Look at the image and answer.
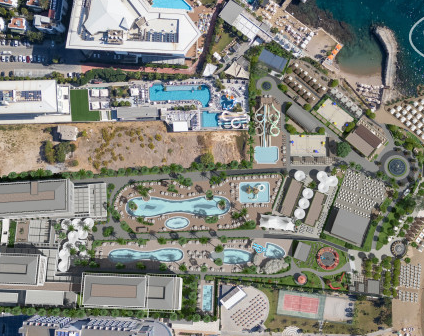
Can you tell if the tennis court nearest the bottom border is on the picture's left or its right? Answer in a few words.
right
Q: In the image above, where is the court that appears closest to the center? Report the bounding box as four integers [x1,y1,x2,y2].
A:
[290,135,326,156]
